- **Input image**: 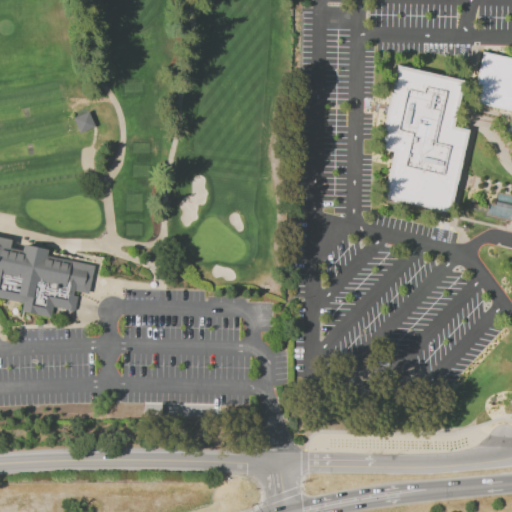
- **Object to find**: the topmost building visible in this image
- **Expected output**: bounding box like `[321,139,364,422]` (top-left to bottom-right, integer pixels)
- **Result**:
[479,51,512,110]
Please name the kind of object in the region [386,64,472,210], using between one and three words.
building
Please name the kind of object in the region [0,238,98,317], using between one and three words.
building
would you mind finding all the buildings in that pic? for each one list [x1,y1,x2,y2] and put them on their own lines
[488,194,512,220]
[0,238,98,317]
[479,51,512,110]
[75,112,96,132]
[386,64,472,210]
